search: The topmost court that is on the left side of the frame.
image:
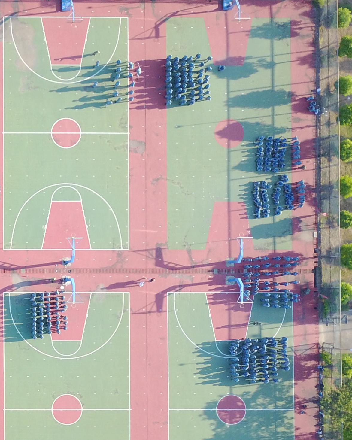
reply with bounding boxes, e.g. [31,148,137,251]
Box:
[2,16,130,250]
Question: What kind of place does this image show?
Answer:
sports ground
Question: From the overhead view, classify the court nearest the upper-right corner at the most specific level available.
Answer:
basketball court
